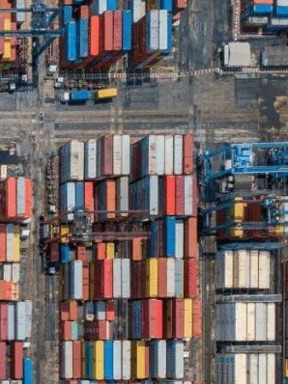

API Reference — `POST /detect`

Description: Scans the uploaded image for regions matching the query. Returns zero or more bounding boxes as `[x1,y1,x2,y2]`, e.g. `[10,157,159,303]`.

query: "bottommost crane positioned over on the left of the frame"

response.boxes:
[41,208,156,248]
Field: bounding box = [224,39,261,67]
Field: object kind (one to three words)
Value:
building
